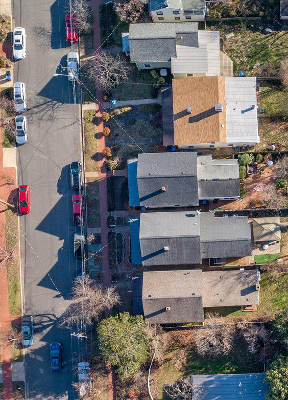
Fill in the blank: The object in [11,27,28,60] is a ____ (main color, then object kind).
white car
